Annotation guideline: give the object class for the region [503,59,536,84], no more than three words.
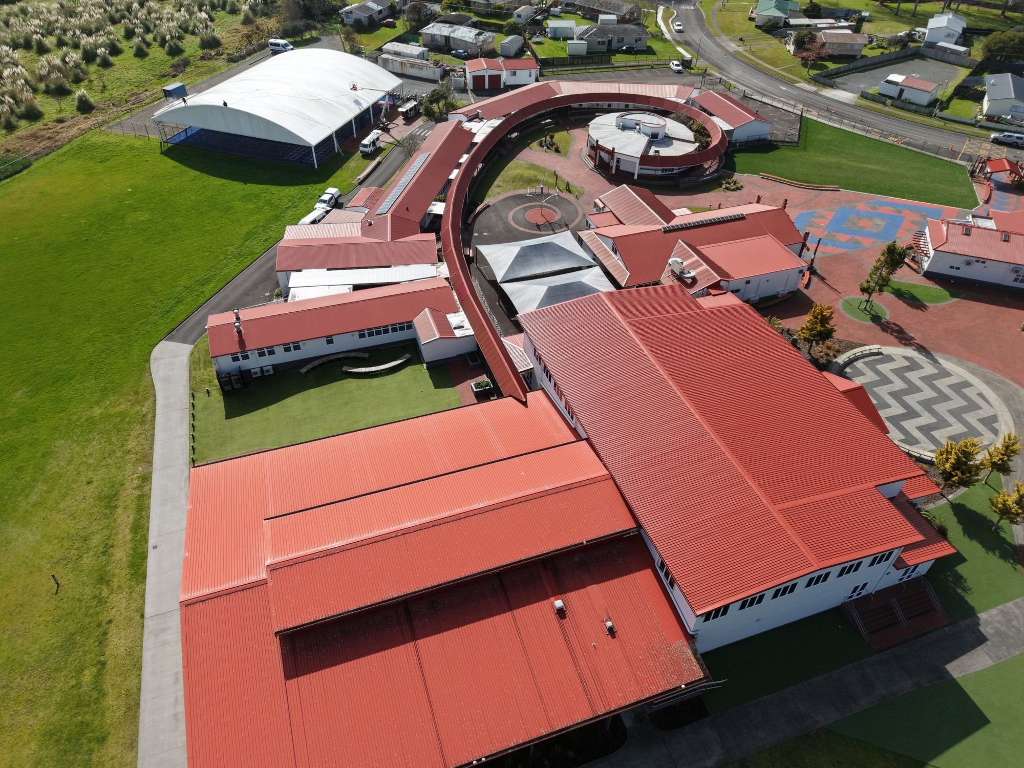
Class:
building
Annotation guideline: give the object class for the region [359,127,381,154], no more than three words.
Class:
vehicle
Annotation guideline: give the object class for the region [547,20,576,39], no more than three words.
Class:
shed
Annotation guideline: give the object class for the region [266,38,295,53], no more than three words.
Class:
vehicle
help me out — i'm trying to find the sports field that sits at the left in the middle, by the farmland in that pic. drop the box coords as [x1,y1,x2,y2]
[0,136,393,768]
